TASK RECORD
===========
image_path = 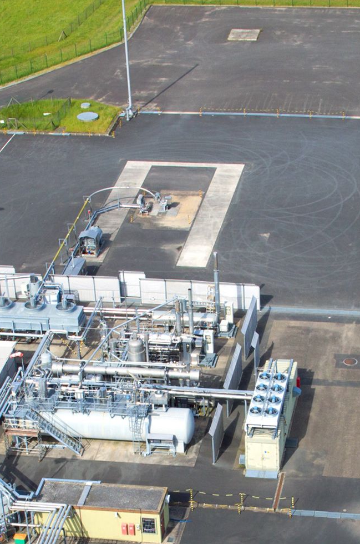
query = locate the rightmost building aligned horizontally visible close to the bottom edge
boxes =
[31,469,174,543]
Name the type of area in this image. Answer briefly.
industrial area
